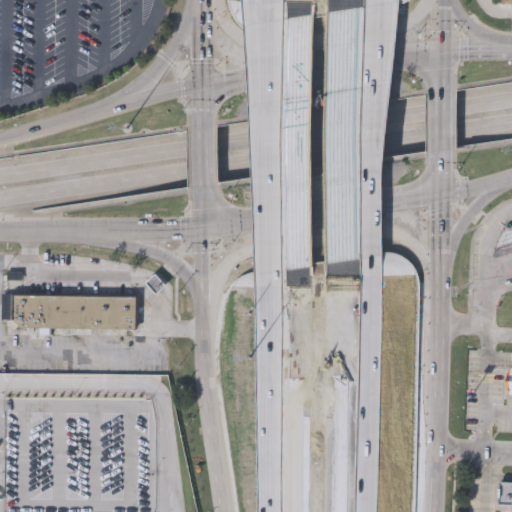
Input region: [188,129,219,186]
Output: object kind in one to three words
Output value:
bridge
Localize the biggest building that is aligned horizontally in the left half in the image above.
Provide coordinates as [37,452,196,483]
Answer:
[2,293,136,338]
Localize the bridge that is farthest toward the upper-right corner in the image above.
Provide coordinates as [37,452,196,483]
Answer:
[424,93,458,151]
